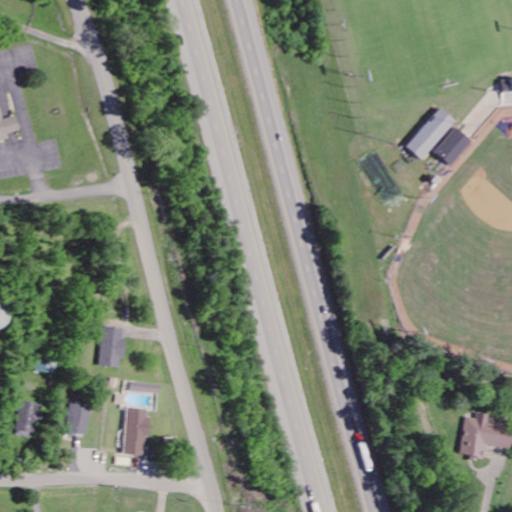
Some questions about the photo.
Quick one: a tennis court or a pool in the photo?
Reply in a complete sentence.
I can see a pool in this picture.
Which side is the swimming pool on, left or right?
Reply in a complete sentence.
The swimming pool is on the left side of the image.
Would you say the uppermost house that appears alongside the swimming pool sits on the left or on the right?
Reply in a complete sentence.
You can find the uppermost house that appears alongside the swimming pool on the left side of the picture.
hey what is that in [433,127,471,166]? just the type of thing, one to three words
building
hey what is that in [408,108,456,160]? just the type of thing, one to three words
barn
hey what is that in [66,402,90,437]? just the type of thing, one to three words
house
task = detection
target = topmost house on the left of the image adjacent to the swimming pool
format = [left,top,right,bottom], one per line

[98,326,124,368]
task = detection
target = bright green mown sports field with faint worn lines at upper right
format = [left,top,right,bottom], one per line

[344,0,512,104]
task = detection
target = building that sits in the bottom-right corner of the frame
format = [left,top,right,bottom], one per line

[460,410,512,460]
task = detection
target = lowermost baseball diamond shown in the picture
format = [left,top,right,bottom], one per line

[389,107,512,374]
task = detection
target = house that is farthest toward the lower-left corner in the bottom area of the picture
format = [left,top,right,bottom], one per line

[12,400,42,440]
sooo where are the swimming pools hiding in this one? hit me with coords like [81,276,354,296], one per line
[115,381,159,411]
